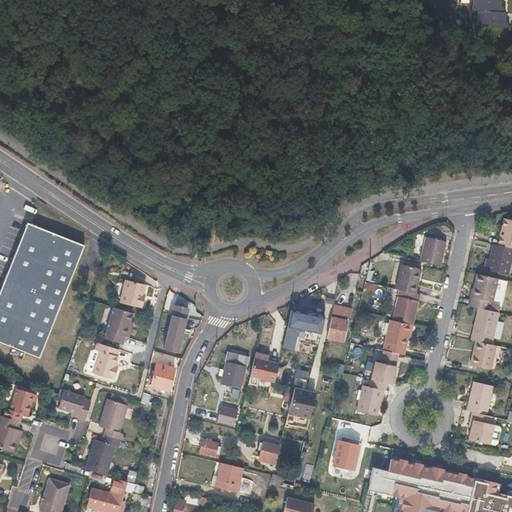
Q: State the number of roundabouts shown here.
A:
2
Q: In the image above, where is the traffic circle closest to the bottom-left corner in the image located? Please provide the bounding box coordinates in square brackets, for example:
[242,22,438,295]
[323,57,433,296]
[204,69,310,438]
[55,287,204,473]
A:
[203,260,262,318]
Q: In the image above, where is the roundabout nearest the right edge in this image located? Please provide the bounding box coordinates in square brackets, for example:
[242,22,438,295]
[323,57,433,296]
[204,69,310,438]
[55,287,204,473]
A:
[390,382,454,448]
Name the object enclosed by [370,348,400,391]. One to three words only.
house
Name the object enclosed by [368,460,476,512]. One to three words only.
building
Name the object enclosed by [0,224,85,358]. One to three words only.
building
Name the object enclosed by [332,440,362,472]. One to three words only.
house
